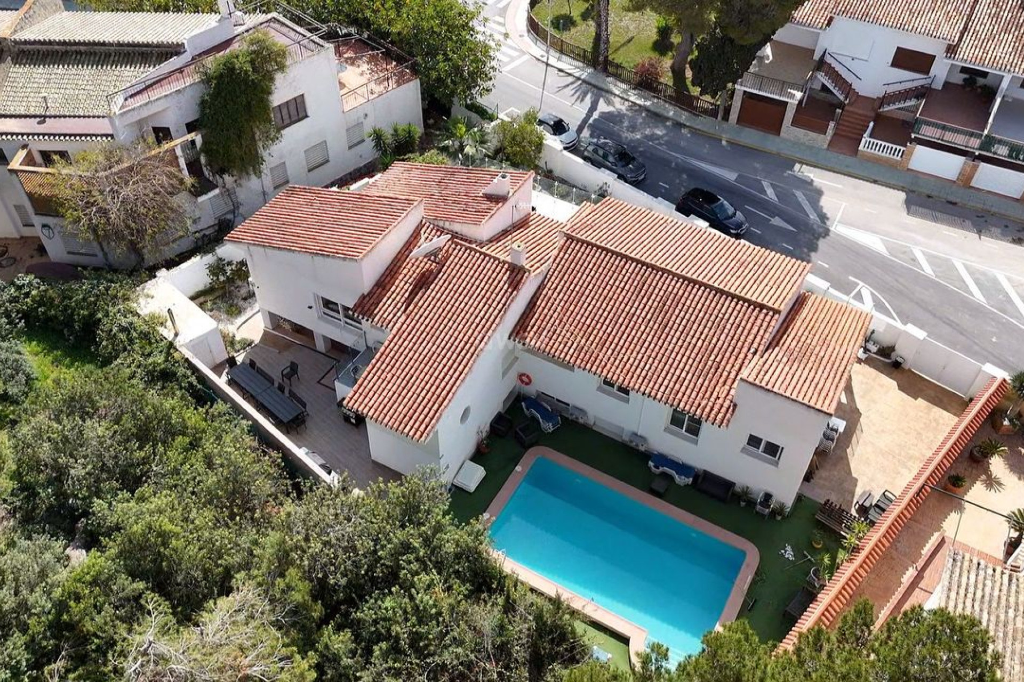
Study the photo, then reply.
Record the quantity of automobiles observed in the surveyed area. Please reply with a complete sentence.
The photo contains 3 automobiles.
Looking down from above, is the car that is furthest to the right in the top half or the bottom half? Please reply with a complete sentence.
The top half of the photo is where the car that is furthest to the right is.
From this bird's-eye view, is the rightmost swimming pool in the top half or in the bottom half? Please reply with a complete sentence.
It is in the bottom half that the rightmost swimming pool appears.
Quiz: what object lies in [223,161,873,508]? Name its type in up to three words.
house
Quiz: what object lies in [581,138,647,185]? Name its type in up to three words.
car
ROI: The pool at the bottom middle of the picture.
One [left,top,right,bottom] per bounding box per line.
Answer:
[474,447,759,682]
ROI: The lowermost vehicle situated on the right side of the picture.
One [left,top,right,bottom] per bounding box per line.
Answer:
[675,185,749,236]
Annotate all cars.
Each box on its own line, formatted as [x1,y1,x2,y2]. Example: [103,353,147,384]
[528,113,586,154]
[675,185,749,236]
[581,138,647,185]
